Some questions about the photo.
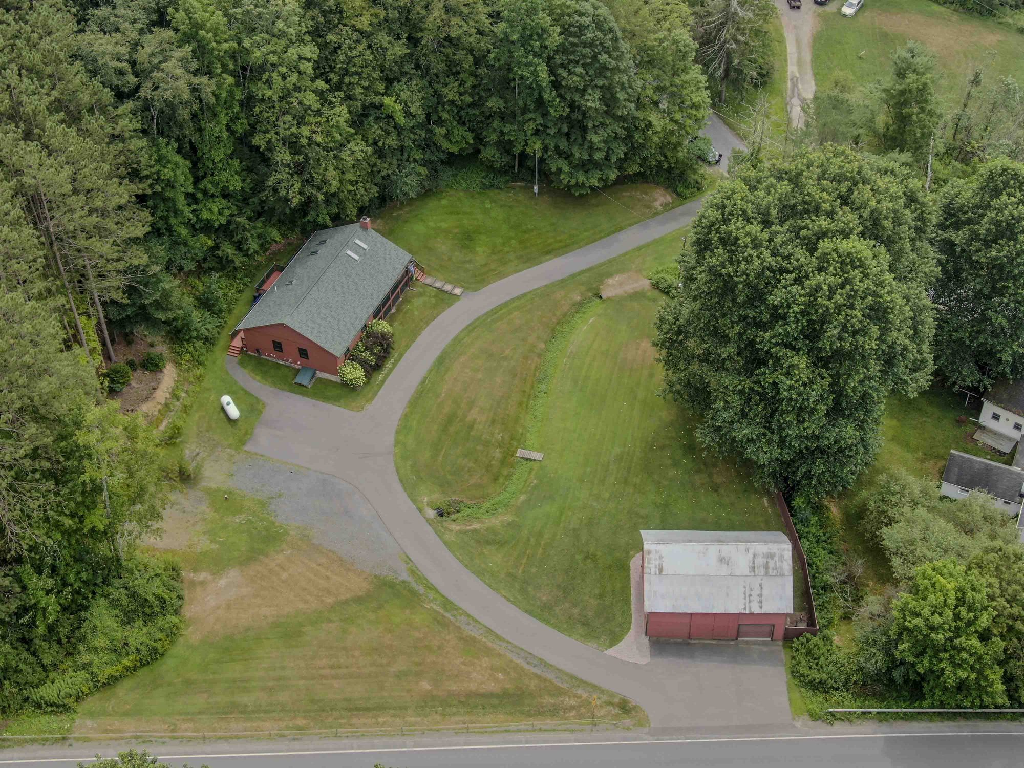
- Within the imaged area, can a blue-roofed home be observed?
No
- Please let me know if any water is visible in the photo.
No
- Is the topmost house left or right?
left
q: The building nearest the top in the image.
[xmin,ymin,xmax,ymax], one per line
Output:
[225,214,432,378]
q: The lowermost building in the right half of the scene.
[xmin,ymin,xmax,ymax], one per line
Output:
[638,530,794,641]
